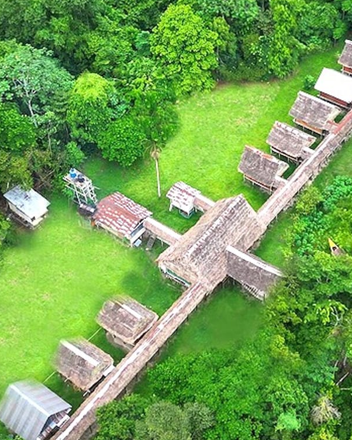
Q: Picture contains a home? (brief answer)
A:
Yes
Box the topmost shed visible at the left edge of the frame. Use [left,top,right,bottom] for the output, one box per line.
[0,180,55,236]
